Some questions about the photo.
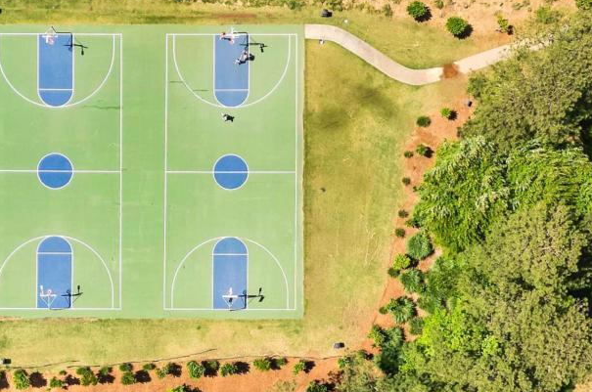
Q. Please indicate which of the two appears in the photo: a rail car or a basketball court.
basketball court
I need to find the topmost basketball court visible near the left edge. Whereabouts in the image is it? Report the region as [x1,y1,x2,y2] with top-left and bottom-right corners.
[0,24,144,319]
